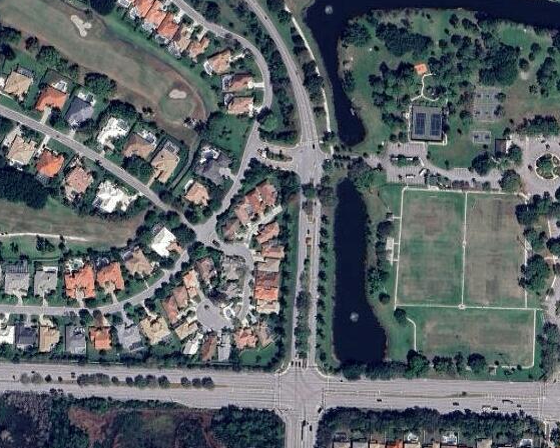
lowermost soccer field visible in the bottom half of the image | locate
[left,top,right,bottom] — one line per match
[417,309,535,366]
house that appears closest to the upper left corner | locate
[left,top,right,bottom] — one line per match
[3,65,34,97]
